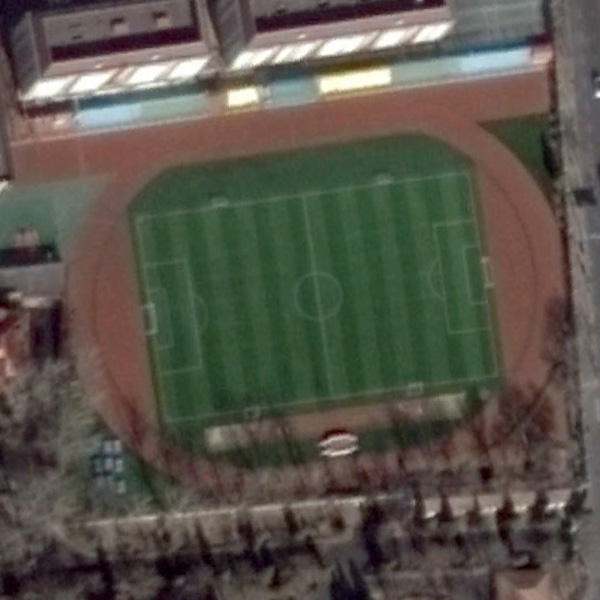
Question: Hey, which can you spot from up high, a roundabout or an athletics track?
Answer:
athletics track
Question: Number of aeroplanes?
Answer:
none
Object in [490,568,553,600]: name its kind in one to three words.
house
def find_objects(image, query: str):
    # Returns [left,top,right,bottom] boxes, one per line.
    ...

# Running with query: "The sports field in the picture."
[126,129,507,468]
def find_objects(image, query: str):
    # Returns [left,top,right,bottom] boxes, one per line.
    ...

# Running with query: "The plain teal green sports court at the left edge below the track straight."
[0,175,114,269]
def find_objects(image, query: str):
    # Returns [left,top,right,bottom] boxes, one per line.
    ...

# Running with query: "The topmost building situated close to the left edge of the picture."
[15,0,216,107]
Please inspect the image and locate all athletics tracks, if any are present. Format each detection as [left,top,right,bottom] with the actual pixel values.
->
[5,65,564,491]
